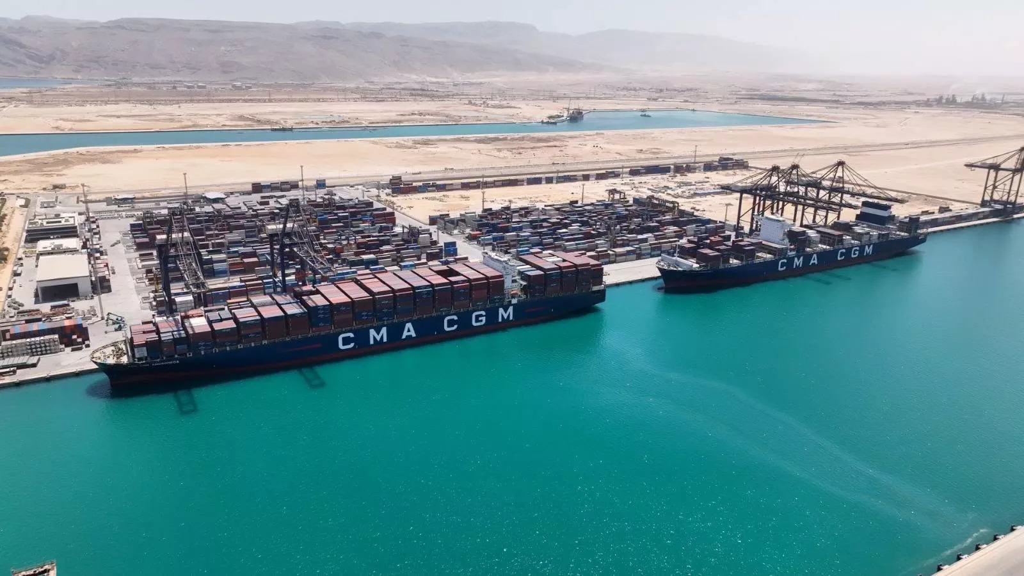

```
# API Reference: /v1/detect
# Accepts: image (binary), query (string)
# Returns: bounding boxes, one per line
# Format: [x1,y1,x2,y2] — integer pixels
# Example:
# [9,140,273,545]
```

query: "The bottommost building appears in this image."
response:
[32,248,91,296]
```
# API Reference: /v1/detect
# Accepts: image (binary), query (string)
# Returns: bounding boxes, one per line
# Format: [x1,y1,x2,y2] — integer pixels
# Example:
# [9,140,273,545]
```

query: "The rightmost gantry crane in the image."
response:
[962,145,1024,216]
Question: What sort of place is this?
port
